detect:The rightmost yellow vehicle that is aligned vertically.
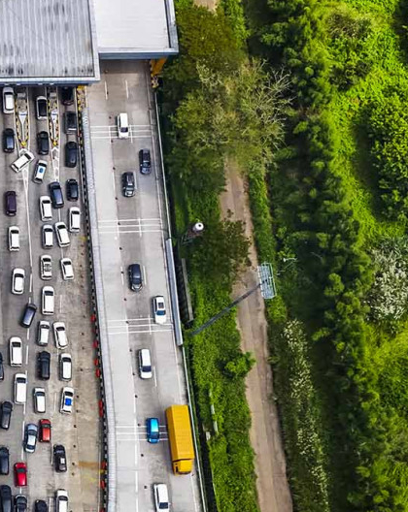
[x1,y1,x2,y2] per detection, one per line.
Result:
[162,404,192,475]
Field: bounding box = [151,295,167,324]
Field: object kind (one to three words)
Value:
car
